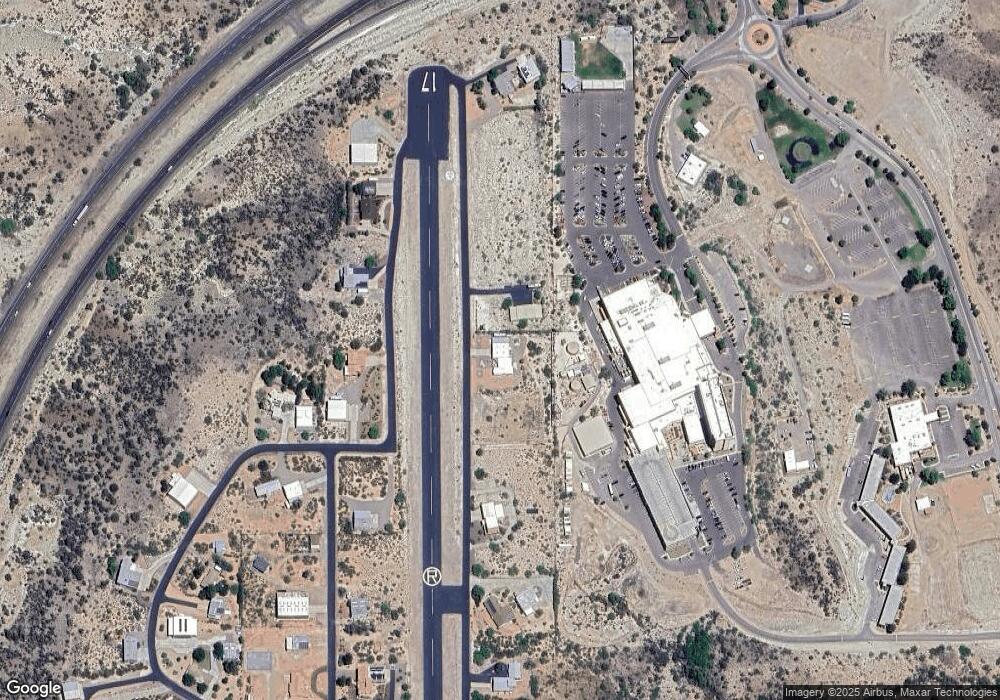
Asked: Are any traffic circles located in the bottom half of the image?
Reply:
No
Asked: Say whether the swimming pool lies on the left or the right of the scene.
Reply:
right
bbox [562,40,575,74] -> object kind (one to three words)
barn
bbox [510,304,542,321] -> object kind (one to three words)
hangar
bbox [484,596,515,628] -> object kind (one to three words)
house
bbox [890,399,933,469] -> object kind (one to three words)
building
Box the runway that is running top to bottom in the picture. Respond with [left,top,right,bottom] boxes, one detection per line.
[395,63,473,700]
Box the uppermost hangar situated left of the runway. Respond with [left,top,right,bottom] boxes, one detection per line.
[352,144,377,164]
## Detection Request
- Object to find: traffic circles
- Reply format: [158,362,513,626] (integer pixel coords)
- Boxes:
[739,15,782,59]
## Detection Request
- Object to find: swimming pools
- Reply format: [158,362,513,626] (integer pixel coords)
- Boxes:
[879,482,899,504]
